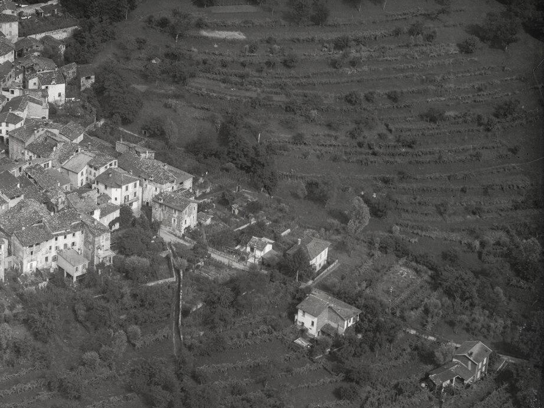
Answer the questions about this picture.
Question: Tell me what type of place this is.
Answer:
residential area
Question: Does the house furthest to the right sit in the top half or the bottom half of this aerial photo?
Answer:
bottom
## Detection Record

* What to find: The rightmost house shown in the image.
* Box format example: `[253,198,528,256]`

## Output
[457,339,492,384]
